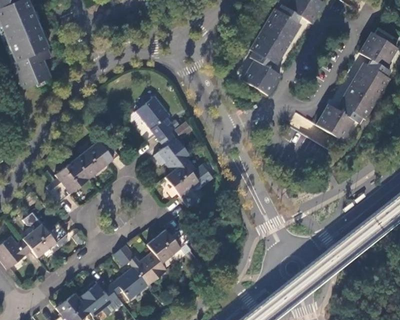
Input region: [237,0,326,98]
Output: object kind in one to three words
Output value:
building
